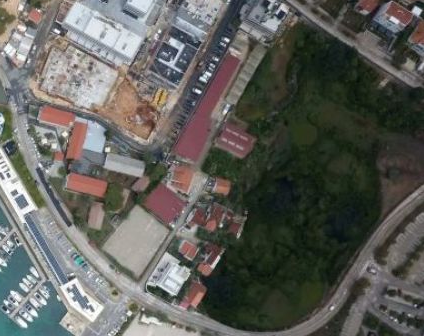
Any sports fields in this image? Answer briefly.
Yes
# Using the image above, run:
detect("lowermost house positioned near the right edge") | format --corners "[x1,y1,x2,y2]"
[403,21,424,60]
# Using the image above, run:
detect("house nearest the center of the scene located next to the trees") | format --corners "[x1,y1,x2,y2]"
[202,178,231,194]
